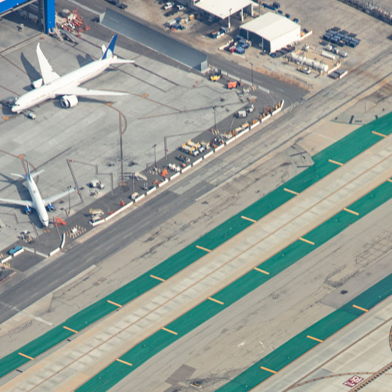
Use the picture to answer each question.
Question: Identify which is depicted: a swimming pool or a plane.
plane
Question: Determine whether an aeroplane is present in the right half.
No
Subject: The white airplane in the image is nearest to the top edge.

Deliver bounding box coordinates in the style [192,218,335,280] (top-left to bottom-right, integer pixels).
[13,33,134,115]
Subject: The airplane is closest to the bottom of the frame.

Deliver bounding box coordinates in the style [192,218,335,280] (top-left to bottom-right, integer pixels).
[0,158,76,227]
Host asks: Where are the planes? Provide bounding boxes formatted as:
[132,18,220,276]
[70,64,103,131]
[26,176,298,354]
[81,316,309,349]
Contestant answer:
[13,33,134,115]
[0,158,76,227]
